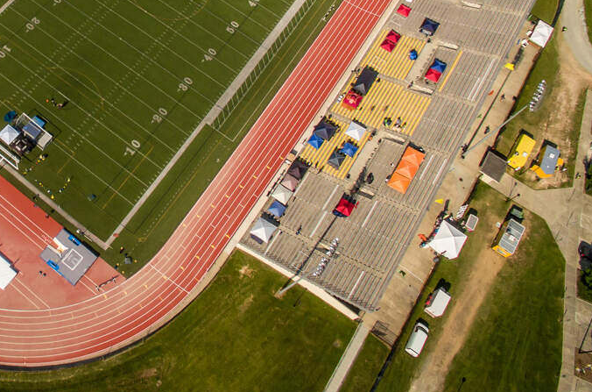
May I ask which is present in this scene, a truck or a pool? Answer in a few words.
truck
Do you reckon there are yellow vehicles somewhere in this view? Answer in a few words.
Yes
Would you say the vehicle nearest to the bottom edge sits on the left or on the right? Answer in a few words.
right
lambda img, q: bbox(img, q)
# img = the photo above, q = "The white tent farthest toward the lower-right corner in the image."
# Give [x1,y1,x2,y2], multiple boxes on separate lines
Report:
[424,218,471,263]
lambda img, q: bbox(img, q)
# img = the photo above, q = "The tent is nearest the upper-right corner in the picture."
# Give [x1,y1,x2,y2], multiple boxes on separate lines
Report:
[522,23,554,48]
